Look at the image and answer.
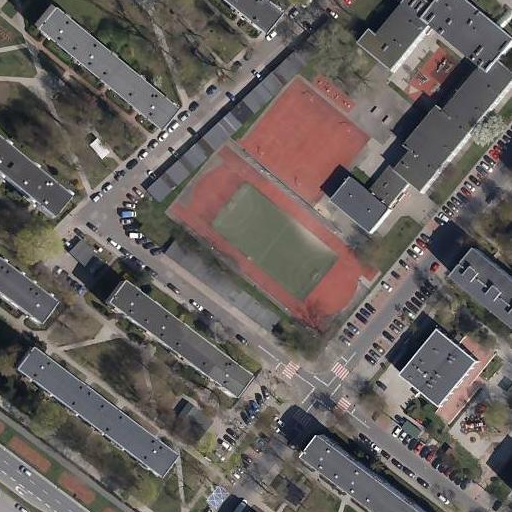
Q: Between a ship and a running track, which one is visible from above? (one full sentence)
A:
Visible in the photo is a running track.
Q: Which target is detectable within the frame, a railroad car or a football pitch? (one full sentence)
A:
I can see a football pitch in this picture.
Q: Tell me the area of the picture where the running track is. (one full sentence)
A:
You can find the running track in the center area of the picture.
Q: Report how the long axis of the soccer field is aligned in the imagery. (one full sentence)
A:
The soccer field is oriented at an angle.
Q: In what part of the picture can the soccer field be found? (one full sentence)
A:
The soccer field is in the center part of the image.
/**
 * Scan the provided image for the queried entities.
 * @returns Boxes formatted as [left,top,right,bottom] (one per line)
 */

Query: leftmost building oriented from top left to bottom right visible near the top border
[40,7,180,133]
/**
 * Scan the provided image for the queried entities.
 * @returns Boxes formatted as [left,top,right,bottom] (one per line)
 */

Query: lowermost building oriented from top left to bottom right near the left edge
[18,348,179,479]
